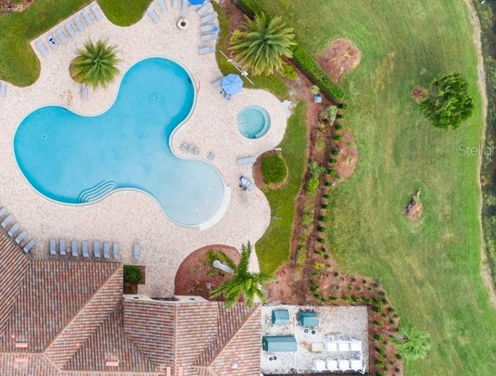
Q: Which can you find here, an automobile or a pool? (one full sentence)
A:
Of the two, only a pool appears.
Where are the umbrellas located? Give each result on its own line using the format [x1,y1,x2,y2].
[186,0,206,6]
[219,75,241,96]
